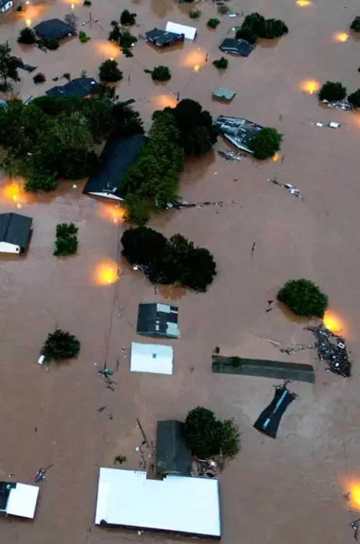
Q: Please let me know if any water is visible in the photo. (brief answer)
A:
Yes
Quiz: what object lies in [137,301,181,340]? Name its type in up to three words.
house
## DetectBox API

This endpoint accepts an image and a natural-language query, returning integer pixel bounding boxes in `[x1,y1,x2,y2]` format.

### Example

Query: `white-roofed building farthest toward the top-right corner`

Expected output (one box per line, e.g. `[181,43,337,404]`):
[165,22,197,44]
